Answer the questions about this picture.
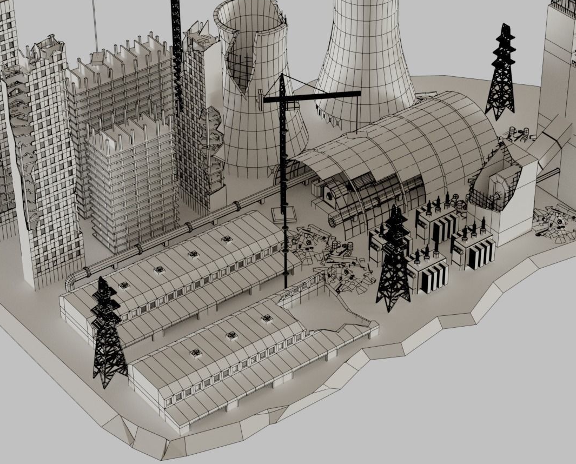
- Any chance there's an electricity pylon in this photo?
Yes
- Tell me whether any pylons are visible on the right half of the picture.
Yes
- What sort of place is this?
industrial area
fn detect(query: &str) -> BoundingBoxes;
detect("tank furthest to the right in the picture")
[453,226,493,269]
